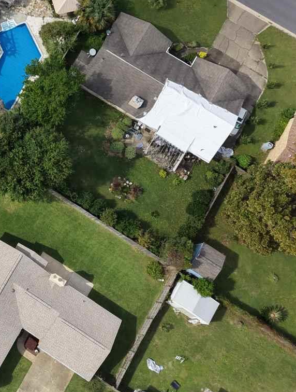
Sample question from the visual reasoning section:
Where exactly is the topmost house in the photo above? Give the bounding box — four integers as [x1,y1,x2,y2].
[78,12,264,146]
